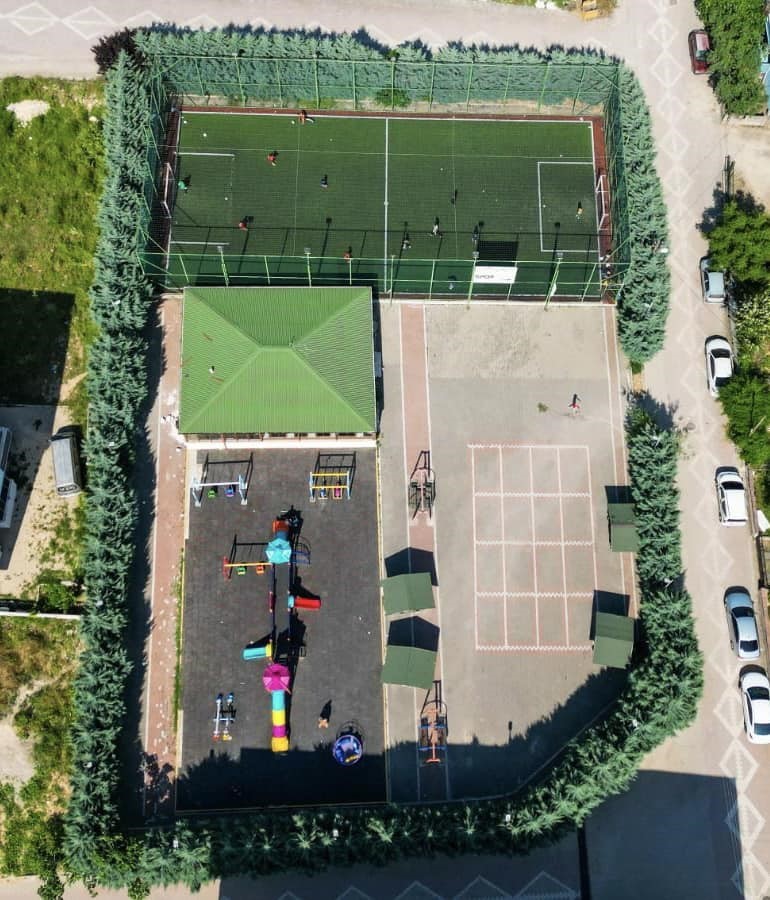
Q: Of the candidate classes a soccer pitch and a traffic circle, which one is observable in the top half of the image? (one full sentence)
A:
Visible in the top half of the image is a soccer pitch.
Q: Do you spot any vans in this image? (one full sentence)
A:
Yes, there is a van in the image.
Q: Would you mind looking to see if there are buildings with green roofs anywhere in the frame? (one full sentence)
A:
Yes, a building with a green roof is visible in the scene.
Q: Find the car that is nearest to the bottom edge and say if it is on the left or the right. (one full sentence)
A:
It is on the right.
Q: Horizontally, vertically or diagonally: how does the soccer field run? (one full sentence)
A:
The soccer field runs horizontally in the image.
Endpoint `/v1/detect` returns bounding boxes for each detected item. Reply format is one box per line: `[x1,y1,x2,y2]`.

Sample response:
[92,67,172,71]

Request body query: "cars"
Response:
[714,472,747,528]
[703,339,734,398]
[738,674,770,744]
[724,594,761,662]
[697,257,726,307]
[686,29,712,76]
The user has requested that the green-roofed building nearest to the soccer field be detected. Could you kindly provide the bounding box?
[175,286,382,448]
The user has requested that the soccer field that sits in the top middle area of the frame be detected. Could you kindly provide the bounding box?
[148,105,616,302]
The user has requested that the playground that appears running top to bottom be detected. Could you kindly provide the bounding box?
[222,514,324,752]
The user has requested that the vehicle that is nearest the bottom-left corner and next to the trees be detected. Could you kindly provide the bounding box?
[47,435,84,503]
